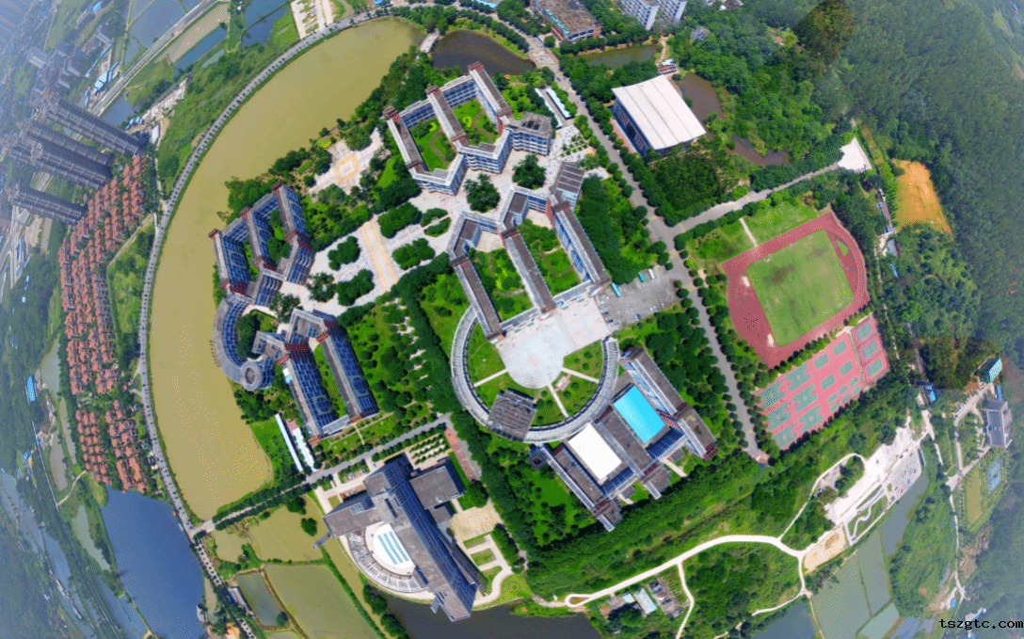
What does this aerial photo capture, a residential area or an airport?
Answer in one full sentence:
The area seen from above is a residential area.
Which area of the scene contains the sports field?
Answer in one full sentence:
The sports field sits in the right section of the image.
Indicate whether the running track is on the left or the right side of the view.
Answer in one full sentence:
The running track sits on the right side.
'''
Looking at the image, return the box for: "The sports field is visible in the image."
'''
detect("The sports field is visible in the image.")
[746,230,856,347]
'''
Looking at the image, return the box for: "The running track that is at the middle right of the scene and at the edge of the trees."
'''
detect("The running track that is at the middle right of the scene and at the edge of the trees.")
[721,209,870,364]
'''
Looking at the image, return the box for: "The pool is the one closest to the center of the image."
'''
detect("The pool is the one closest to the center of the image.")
[613,384,667,445]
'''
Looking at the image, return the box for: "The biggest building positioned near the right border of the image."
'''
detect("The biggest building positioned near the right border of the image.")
[978,399,1015,446]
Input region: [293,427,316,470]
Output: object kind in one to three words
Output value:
shed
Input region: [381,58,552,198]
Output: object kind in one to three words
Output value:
building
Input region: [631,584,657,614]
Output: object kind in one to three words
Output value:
shed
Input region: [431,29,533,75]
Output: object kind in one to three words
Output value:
pond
